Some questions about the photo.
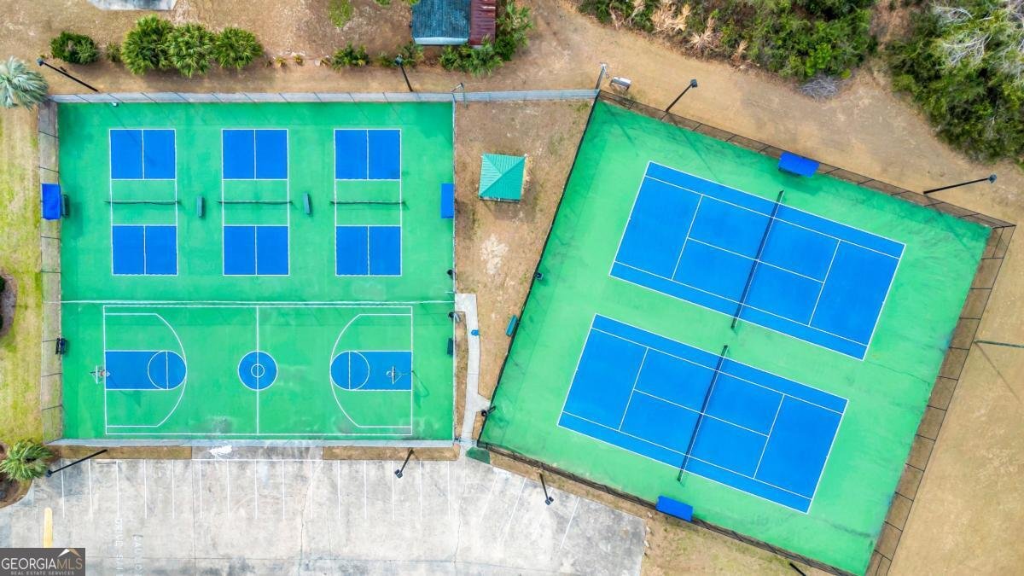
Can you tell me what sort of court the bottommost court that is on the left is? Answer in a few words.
basketball court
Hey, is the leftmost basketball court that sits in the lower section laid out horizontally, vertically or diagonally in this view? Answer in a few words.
horizontally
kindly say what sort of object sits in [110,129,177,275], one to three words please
sports court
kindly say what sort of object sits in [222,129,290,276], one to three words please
sports court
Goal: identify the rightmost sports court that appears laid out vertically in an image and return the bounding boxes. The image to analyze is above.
[335,129,402,276]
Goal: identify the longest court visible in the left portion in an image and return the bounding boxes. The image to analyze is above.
[103,306,412,435]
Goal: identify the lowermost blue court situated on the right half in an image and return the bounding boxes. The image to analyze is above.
[557,313,849,514]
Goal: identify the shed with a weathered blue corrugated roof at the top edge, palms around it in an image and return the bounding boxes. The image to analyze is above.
[412,0,496,49]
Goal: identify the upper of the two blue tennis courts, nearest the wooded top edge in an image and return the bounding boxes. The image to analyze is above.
[609,160,907,361]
